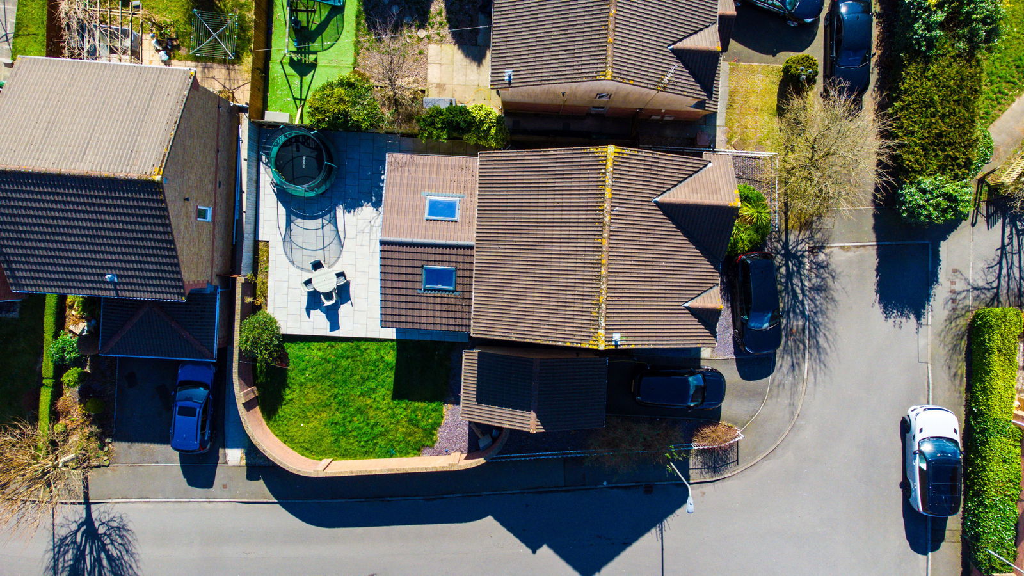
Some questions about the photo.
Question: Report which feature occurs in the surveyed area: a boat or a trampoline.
trampoline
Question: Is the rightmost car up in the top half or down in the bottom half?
bottom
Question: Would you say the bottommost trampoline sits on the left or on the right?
left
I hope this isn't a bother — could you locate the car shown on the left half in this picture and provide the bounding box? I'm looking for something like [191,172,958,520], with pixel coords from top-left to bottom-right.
[170,362,224,453]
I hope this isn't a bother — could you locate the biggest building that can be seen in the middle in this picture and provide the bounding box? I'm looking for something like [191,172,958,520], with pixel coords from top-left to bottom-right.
[469,145,740,350]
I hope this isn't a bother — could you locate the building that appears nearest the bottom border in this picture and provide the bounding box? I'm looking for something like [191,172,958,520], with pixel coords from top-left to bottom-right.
[458,347,610,432]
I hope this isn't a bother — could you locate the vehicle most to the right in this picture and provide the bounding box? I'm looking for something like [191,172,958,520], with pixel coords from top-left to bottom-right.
[899,403,965,513]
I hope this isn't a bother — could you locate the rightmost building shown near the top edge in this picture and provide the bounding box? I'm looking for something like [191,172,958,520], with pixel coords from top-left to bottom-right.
[487,0,737,137]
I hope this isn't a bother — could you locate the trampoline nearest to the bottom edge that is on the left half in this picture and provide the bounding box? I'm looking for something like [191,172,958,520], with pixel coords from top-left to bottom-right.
[255,119,340,199]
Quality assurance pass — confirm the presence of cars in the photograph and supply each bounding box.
[735,0,821,25]
[170,362,224,453]
[823,0,878,97]
[631,365,726,417]
[899,403,965,513]
[732,253,786,353]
